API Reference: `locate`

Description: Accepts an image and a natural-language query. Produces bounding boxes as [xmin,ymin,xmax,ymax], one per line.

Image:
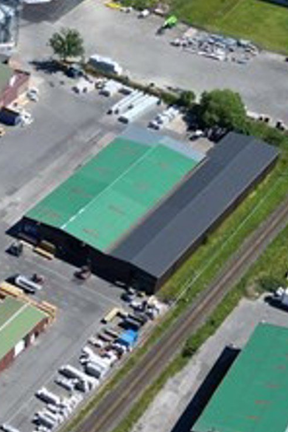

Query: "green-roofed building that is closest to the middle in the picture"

[24,127,202,270]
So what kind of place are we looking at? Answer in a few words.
industrial area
